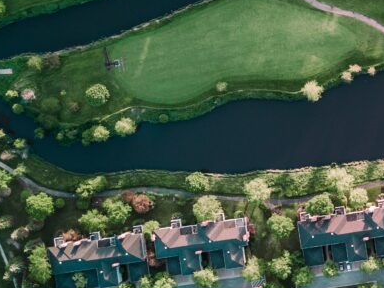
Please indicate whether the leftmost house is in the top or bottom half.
bottom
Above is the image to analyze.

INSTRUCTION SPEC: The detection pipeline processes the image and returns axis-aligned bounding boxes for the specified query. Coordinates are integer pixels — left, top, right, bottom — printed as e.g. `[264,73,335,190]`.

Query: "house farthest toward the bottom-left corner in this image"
[48,223,156,286]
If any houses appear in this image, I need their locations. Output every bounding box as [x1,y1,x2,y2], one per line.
[48,223,156,286]
[153,208,254,273]
[298,194,384,261]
